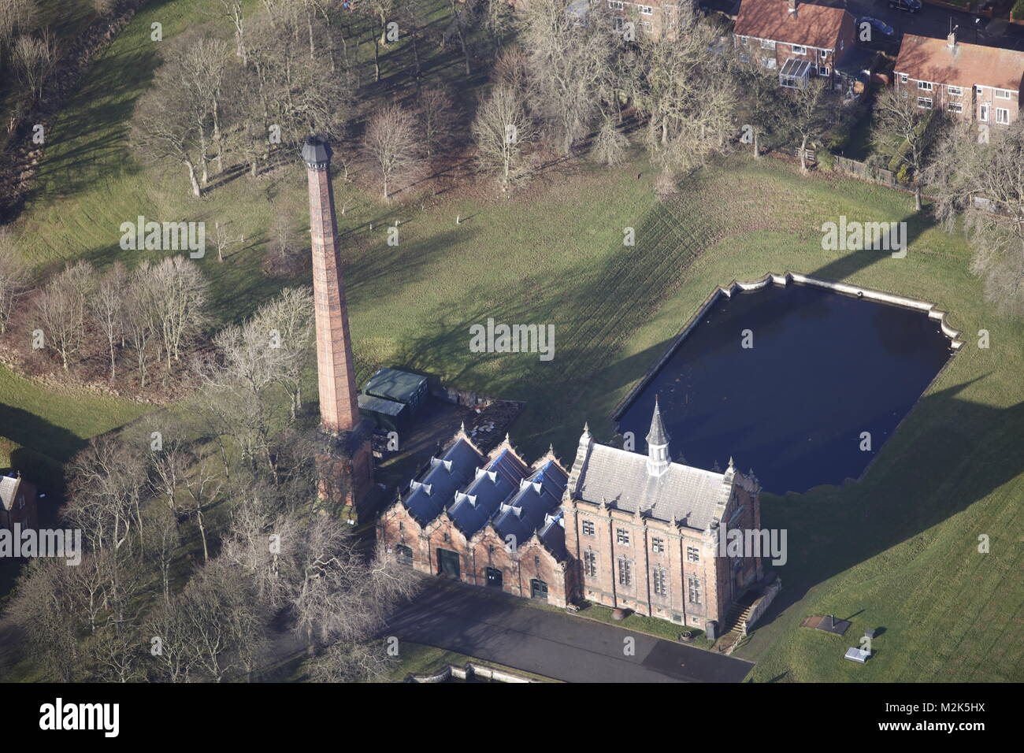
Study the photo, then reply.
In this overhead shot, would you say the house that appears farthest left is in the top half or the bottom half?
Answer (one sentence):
Seen from above, the house that appears farthest left lies in the bottom half of the view.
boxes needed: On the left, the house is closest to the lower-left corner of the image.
[0,461,41,545]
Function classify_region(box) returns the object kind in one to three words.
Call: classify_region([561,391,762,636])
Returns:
building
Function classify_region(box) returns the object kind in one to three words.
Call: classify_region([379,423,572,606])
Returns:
building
